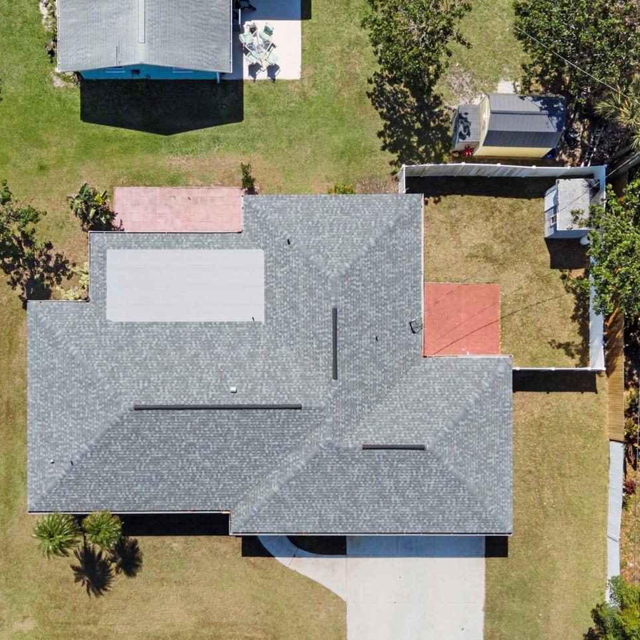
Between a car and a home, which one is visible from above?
home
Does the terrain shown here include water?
No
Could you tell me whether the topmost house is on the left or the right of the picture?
left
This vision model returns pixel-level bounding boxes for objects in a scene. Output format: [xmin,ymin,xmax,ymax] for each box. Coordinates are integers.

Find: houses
[56,0,242,80]
[28,193,513,537]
